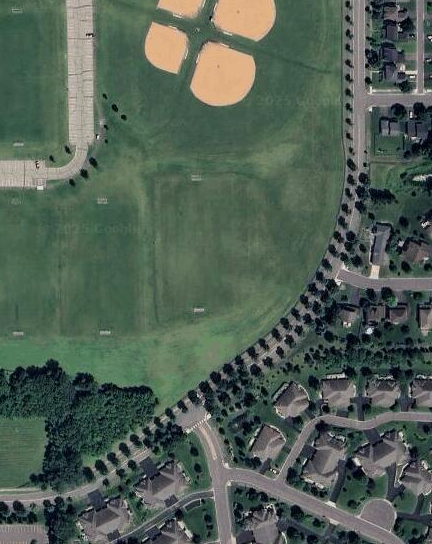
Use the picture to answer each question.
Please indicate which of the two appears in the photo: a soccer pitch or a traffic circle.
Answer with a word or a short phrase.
soccer pitch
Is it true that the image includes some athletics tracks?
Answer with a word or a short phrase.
No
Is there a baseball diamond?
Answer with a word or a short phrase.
Yes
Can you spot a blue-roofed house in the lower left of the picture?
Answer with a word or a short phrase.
No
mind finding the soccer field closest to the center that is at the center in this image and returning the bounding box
[156,181,244,313]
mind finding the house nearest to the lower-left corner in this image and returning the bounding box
[80,499,131,544]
